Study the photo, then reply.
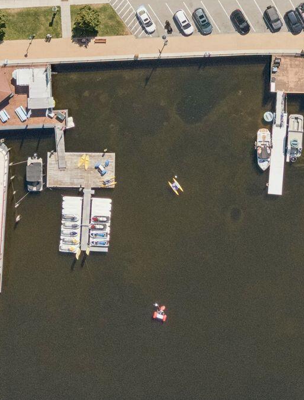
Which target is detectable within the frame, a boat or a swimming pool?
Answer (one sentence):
The one in the frame is a boat.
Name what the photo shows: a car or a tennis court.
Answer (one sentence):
I can see a car in this picture.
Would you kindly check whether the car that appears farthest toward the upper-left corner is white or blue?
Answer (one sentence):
The car that appears farthest toward the upper-left corner is white.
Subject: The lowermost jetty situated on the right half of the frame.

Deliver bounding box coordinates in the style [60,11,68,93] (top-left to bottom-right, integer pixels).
[266,113,287,195]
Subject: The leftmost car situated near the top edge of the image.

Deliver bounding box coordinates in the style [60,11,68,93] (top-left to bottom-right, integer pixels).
[136,5,156,33]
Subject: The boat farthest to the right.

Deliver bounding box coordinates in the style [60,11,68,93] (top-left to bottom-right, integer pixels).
[287,113,304,164]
